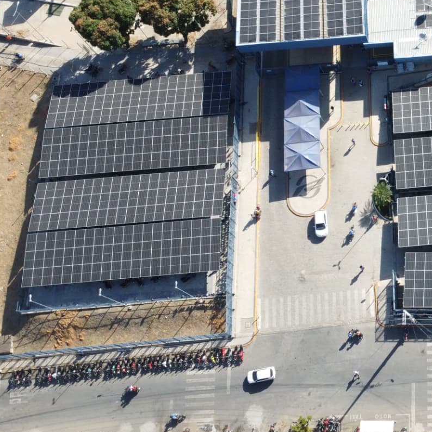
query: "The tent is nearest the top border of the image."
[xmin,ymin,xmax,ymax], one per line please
[284,63,324,95]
